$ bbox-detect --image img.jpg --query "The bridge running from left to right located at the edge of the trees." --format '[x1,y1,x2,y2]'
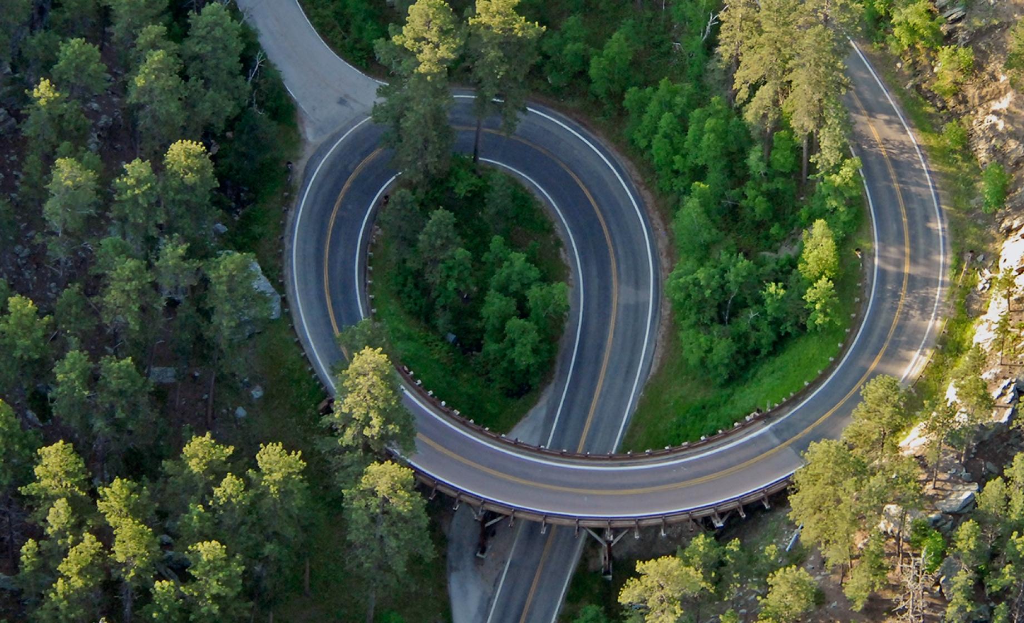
[371,384,812,575]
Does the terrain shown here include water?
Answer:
No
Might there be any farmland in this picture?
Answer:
No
